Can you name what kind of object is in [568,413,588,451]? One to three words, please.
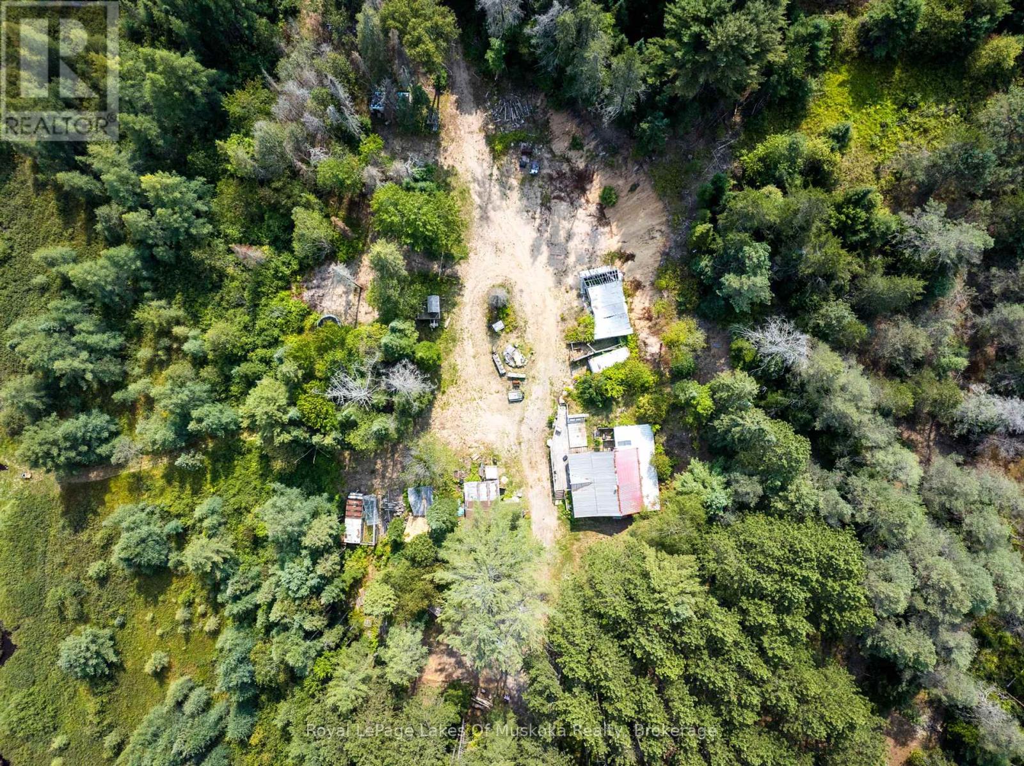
shed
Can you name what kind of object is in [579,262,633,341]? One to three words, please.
shed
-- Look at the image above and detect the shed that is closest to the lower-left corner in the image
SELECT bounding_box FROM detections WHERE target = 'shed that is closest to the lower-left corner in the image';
[343,491,365,544]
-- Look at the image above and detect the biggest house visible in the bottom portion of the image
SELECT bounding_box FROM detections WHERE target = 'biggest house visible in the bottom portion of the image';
[568,425,658,518]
